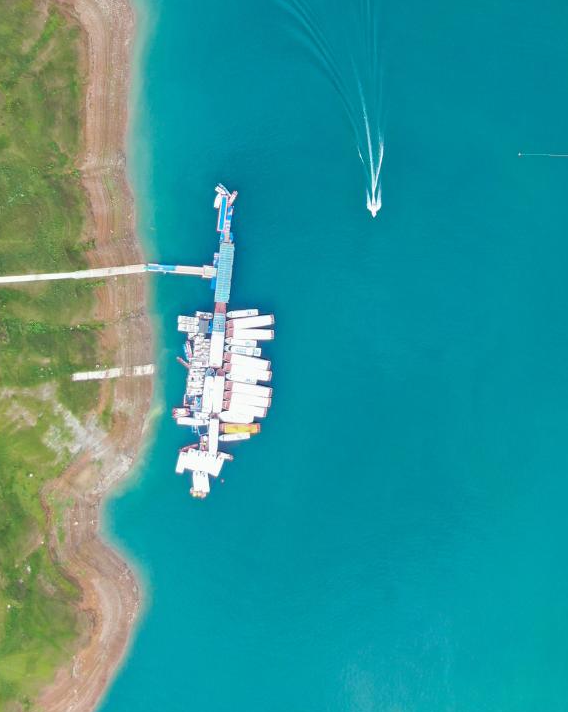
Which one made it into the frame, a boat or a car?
boat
